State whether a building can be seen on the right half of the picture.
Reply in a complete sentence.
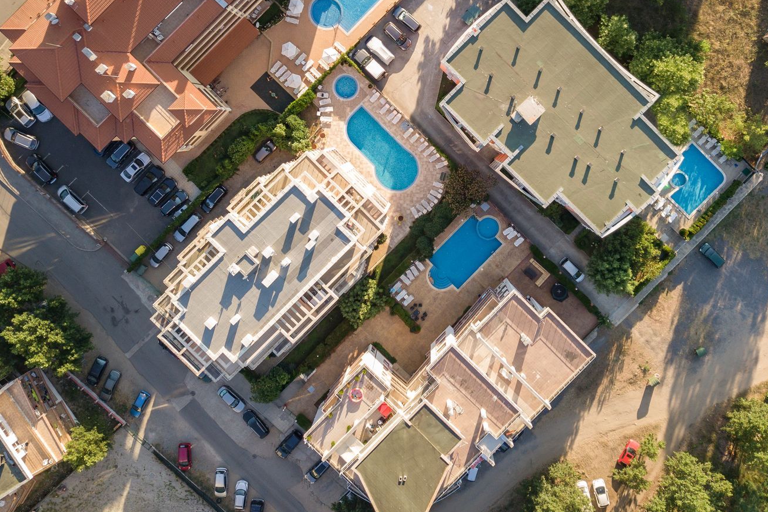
Yes, a building shows up on the right half of the picture.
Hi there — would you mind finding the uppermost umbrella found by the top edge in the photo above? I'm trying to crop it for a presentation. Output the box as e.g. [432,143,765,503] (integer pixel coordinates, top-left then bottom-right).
[286,0,306,17]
